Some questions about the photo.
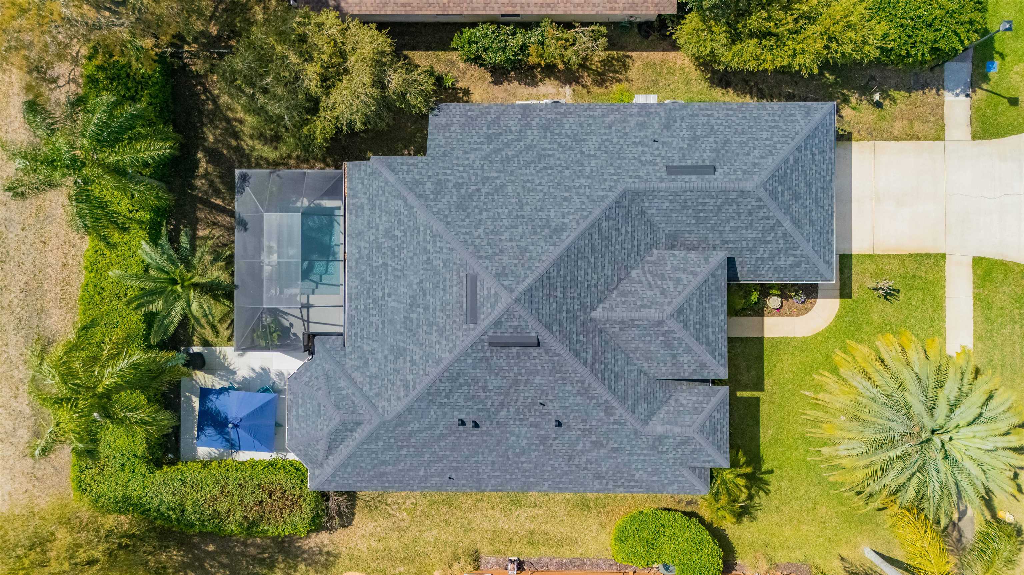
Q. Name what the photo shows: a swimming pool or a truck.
swimming pool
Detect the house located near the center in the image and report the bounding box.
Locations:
[284,102,836,495]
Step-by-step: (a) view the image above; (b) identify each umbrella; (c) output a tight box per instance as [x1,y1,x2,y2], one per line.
[197,387,279,460]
